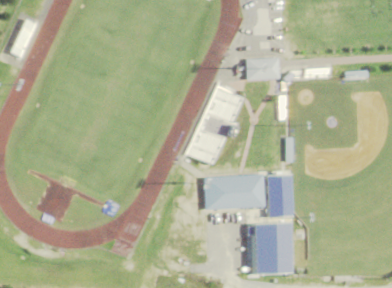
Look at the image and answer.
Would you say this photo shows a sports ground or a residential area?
sports ground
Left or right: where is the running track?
left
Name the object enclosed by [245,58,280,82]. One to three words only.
building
